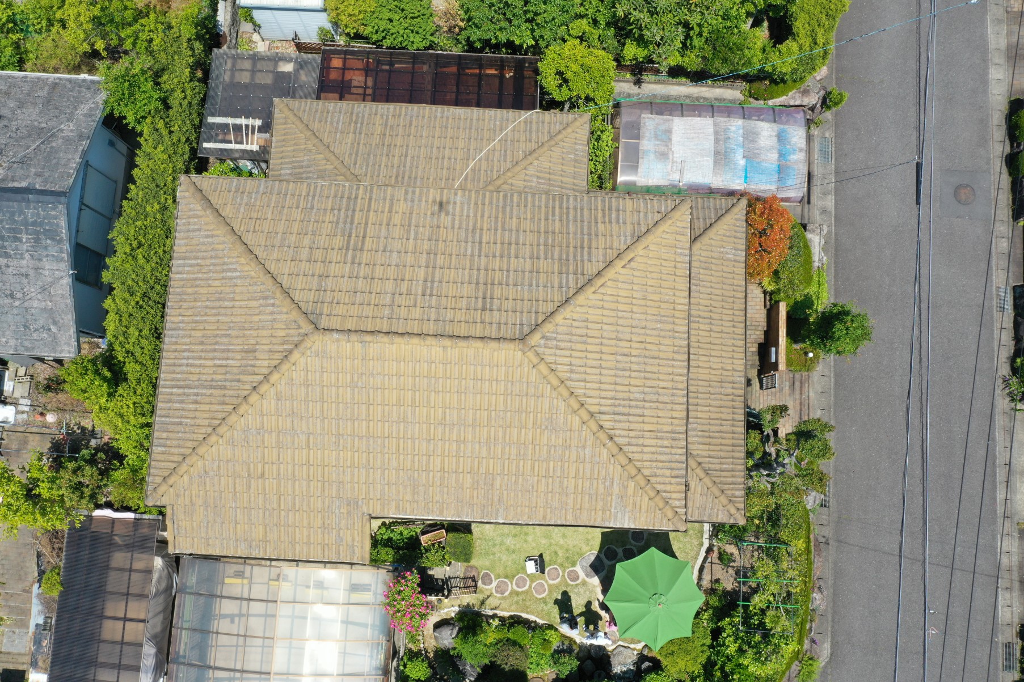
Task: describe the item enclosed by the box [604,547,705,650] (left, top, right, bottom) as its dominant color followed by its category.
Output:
green umbrella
